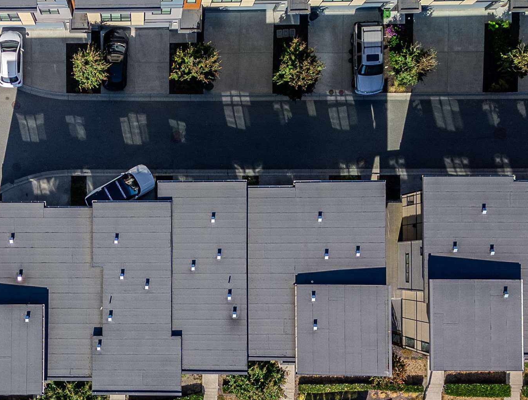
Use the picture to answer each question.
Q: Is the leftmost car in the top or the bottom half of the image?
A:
top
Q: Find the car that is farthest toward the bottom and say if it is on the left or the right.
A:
left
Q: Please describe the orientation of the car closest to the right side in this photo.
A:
up and down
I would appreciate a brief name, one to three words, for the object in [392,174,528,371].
house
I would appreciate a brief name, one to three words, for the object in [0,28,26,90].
car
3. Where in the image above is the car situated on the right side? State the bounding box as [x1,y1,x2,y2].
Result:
[351,20,389,96]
